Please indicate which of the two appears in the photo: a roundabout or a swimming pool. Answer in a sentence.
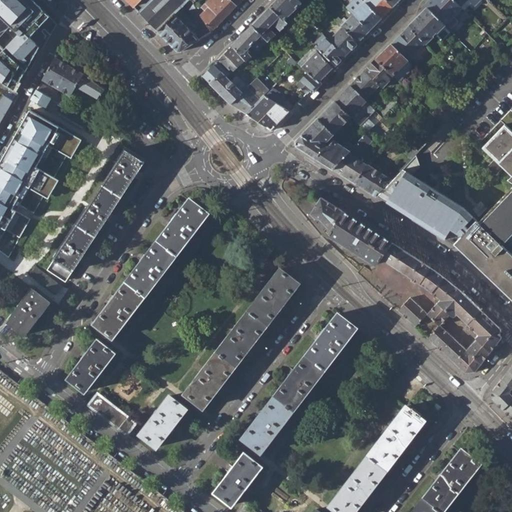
Looking from above, you can make out a roundabout.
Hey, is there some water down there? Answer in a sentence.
No, no water is visible.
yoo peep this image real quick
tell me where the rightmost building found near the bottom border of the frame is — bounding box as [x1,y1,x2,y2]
[410,448,481,512]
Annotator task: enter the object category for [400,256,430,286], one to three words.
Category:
building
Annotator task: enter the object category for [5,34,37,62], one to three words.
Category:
house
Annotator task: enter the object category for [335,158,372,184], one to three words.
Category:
house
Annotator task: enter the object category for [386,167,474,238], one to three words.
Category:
building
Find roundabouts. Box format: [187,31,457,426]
[198,130,254,185]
